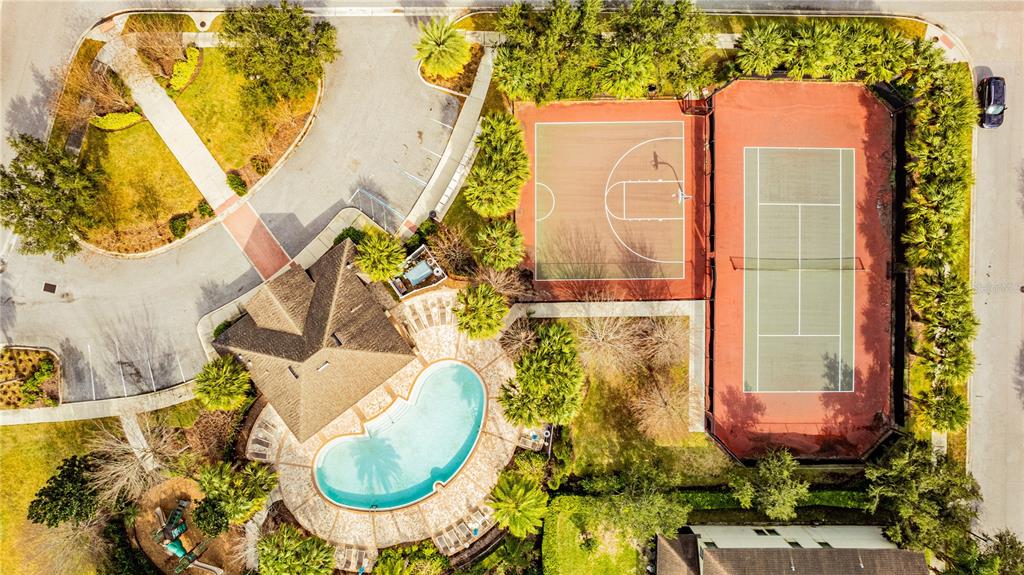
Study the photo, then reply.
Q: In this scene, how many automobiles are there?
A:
one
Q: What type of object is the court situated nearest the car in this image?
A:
tennis court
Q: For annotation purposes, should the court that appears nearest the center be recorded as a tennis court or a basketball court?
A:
basketball court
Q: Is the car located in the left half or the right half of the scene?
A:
right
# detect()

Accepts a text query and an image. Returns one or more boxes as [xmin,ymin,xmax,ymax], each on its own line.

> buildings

[212,238,416,442]
[651,524,937,575]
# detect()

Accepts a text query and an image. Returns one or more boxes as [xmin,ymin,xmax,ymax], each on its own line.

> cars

[977,78,1005,128]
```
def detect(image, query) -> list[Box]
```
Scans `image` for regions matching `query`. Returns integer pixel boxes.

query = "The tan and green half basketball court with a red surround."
[516,97,709,300]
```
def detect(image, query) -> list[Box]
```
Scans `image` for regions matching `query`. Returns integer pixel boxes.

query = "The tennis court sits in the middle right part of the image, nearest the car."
[715,80,894,460]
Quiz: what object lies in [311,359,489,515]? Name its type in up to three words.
swimming pool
